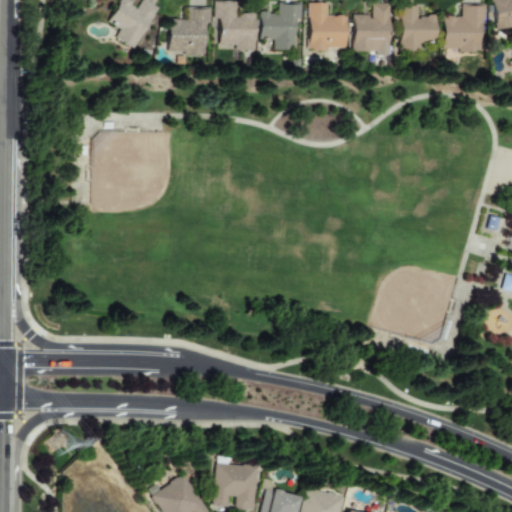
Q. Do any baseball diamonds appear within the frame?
Yes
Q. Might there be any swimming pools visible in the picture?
Yes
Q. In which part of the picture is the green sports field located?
center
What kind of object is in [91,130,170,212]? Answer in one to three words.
baseball field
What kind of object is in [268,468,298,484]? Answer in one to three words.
swimming pool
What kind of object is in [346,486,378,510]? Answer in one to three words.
swimming pool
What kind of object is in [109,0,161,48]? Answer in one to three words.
house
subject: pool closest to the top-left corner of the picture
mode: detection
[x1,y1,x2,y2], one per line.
[87,22,118,43]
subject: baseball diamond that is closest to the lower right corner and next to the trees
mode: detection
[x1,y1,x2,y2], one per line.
[371,266,456,342]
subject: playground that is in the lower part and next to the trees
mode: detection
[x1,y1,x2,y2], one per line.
[484,308,512,336]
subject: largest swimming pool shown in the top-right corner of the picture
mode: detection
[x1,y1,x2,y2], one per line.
[493,50,508,74]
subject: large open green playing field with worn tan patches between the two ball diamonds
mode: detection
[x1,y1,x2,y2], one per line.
[34,92,490,366]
